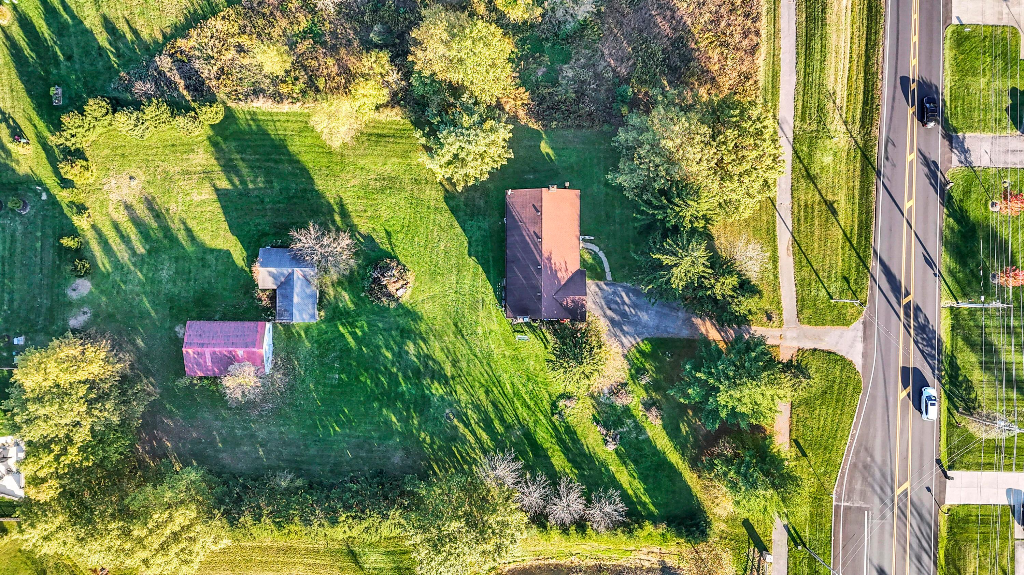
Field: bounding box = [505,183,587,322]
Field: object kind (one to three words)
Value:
house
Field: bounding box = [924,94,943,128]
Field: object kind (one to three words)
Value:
car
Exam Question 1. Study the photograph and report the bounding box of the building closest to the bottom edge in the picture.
[182,321,273,377]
